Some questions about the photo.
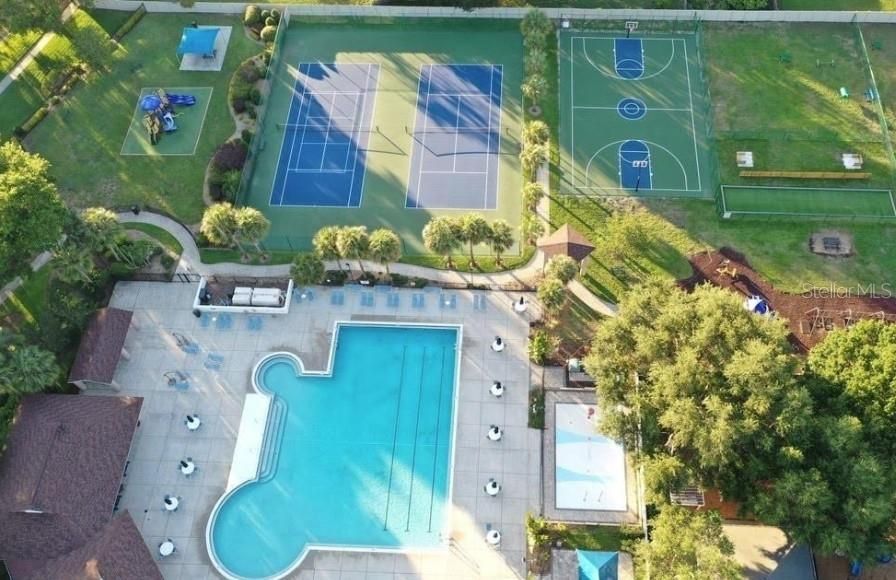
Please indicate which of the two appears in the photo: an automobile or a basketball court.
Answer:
basketball court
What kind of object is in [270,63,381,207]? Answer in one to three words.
tennis court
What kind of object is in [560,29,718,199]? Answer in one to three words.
basketball court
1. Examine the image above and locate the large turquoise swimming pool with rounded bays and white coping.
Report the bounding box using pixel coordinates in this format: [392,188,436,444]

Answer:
[206,318,464,580]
